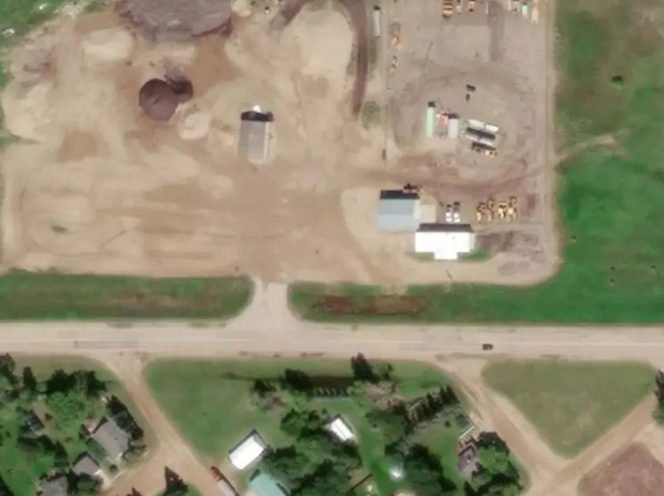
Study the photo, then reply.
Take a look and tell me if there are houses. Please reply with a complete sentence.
Yes, looking at the shot, I can spot a house.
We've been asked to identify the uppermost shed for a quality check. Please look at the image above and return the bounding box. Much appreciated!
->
[244,119,272,162]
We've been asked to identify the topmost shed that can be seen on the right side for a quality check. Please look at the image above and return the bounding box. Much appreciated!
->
[377,200,421,231]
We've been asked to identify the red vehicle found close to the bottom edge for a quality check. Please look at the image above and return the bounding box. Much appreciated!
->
[212,467,225,483]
